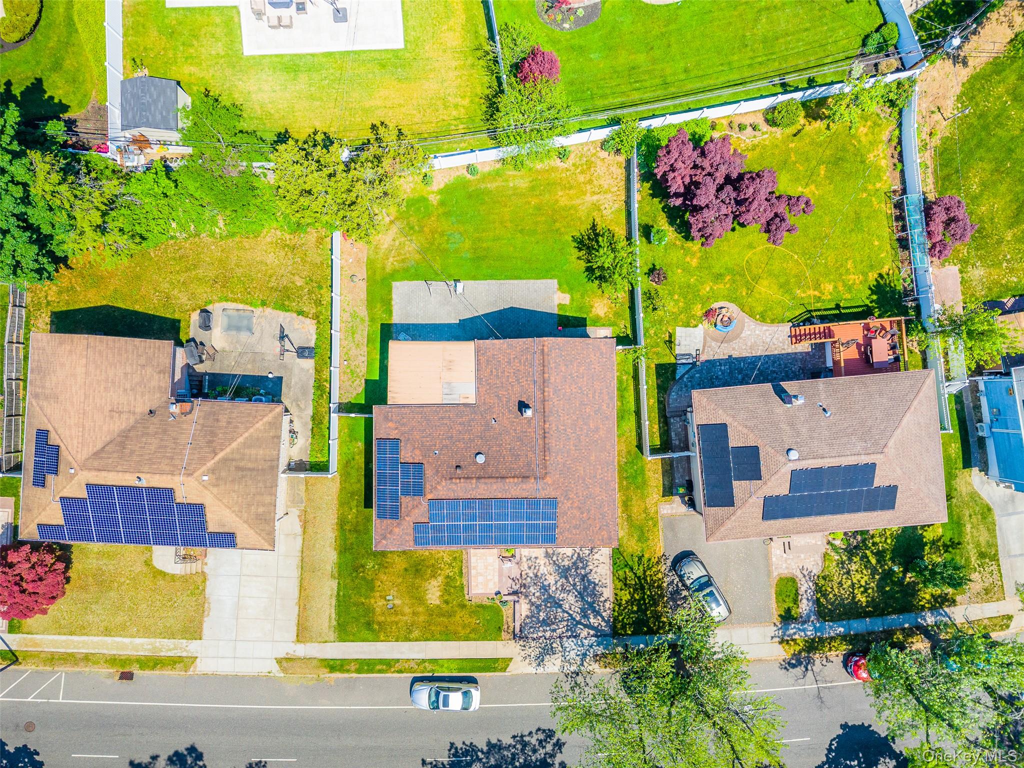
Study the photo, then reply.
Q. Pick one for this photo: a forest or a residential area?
residential area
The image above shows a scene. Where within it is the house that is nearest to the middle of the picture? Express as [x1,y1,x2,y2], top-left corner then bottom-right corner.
[371,337,620,553]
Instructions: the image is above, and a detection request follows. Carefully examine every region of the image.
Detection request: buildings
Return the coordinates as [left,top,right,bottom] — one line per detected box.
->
[120,76,190,141]
[17,333,296,552]
[371,337,620,553]
[978,366,1024,484]
[687,368,949,543]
